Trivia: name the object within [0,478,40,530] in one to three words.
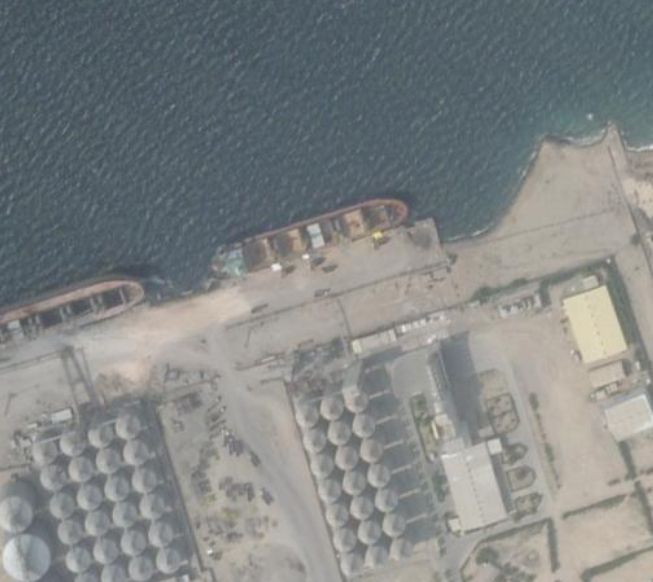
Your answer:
storage tank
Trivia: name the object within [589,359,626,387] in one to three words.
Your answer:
building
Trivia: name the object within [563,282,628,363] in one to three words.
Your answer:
building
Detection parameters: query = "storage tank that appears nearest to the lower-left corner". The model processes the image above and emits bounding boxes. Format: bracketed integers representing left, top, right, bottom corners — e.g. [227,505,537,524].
[3,517,56,579]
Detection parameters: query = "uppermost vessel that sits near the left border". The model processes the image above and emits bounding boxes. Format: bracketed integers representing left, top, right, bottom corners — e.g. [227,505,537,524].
[0,278,144,356]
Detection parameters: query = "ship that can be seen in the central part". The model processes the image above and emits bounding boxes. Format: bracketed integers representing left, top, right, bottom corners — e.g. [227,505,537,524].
[210,197,409,280]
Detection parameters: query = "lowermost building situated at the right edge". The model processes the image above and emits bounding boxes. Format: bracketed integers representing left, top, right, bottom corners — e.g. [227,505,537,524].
[605,392,653,441]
